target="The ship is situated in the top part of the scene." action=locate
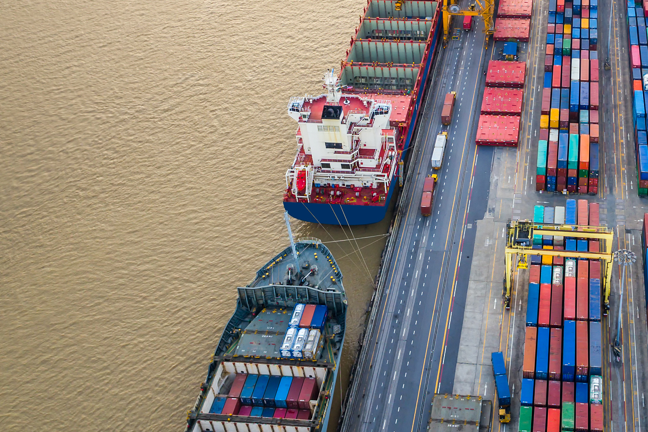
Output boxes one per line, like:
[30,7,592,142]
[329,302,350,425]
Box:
[284,0,448,227]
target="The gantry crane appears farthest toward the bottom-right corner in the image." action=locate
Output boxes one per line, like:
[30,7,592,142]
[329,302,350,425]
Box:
[499,218,616,317]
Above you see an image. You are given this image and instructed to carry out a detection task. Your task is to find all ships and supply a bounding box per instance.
[284,0,448,227]
[186,212,349,432]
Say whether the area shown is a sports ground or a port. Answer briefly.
port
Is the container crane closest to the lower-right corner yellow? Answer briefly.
Yes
